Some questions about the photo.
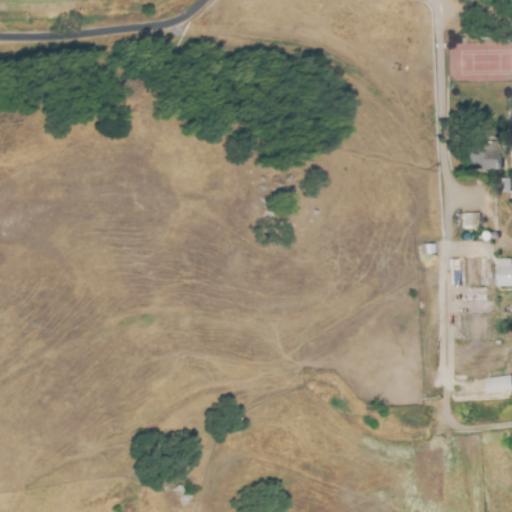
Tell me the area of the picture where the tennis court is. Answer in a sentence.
Look in the top right portion of the view to spot the tennis court.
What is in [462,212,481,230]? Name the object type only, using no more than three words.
house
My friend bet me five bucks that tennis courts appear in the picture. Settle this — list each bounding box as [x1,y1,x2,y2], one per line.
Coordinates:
[450,42,512,82]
